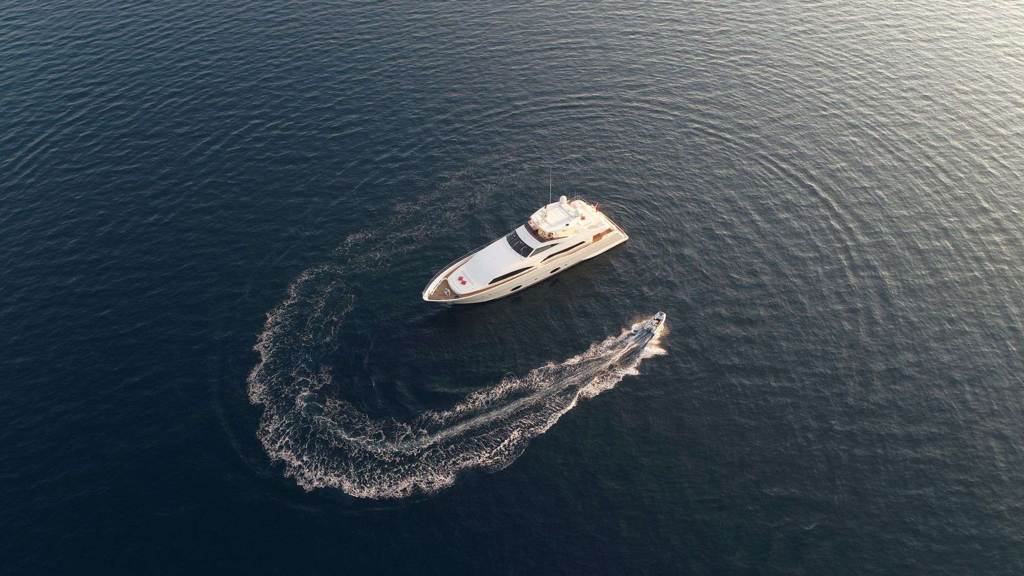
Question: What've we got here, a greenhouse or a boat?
boat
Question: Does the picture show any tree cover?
No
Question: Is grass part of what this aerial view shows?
No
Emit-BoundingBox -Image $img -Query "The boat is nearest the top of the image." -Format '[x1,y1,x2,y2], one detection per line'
[422,179,628,305]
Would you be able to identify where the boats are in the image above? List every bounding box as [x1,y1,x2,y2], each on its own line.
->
[642,310,666,336]
[422,179,628,305]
